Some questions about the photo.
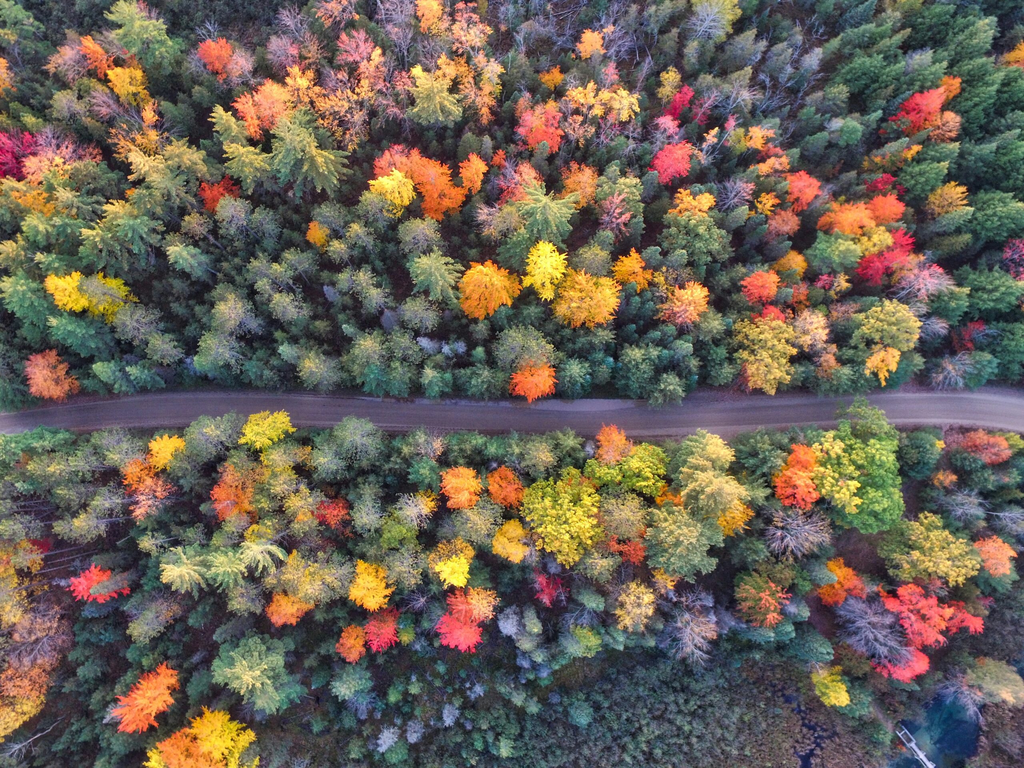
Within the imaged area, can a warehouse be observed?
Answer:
No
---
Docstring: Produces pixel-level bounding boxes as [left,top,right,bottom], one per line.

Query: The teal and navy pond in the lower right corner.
[884,691,986,768]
